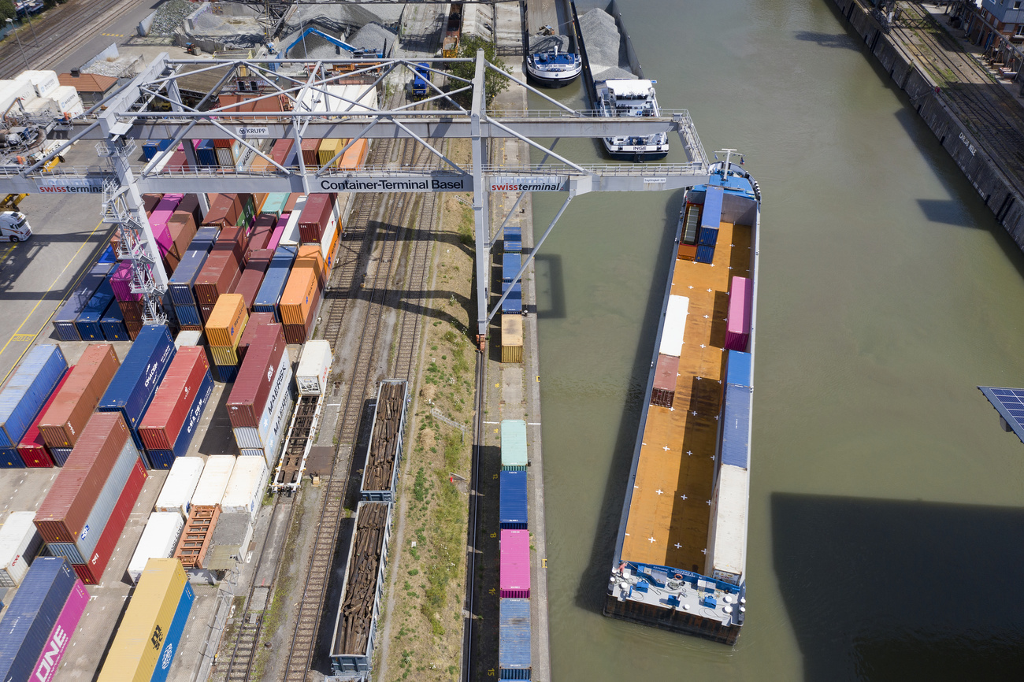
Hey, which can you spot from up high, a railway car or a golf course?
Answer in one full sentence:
The one in the frame is a railway car.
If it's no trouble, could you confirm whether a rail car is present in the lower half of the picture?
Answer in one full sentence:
Yes, a rail car is visible in the lower half of the picture.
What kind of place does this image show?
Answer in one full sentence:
This image shows a port.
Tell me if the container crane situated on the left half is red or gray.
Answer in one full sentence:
The container crane situated on the left half is gray.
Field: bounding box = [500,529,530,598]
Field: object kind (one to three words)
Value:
shipping container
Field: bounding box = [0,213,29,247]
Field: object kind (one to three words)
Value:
truck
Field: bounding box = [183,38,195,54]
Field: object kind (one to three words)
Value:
vehicle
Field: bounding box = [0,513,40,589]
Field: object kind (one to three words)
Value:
shipping container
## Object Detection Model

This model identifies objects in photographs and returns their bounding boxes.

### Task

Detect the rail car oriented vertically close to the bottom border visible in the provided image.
[329,501,394,675]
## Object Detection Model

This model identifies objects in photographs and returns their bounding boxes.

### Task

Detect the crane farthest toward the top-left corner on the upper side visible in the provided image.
[0,45,715,362]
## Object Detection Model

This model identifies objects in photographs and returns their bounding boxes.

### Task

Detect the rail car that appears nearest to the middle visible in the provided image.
[360,380,411,506]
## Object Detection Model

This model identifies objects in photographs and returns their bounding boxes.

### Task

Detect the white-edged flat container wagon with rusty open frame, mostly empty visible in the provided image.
[271,356,334,499]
